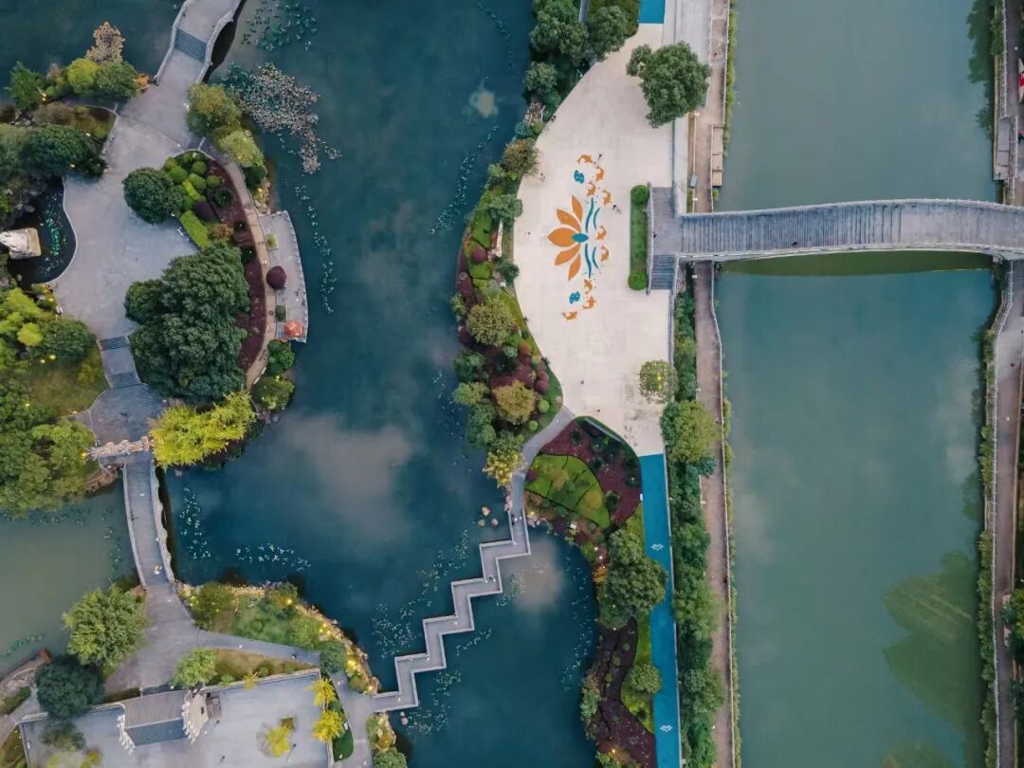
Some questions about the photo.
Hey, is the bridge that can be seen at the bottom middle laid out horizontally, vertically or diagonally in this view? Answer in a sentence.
In this picture, the bridge that can be seen at the bottom middle is oriented diagonally.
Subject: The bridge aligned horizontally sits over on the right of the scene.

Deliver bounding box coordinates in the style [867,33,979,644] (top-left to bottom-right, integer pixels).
[680,202,1024,260]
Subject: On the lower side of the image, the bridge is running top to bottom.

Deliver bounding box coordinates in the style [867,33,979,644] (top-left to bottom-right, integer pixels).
[119,461,178,589]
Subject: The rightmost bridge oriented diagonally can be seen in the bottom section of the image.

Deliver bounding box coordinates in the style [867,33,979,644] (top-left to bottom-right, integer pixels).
[373,508,532,716]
